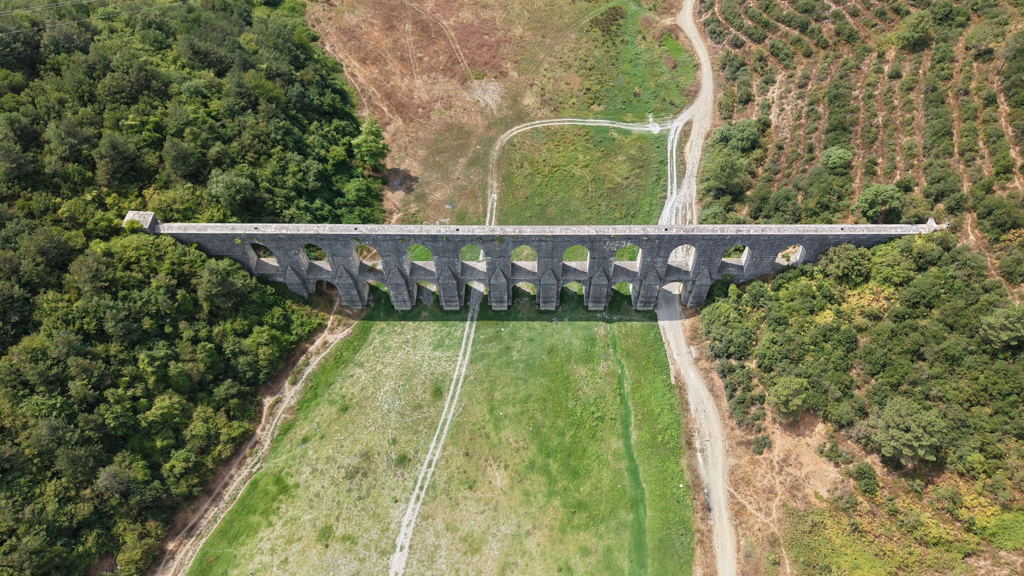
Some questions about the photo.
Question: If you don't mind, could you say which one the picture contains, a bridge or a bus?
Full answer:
The image shows a bridge.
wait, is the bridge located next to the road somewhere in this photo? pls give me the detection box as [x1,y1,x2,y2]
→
[158,224,927,310]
